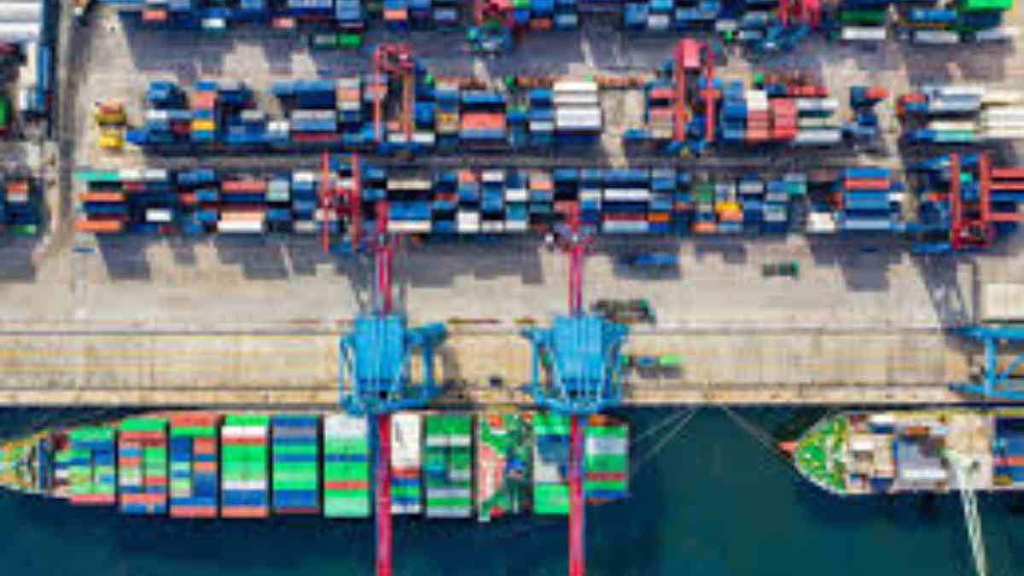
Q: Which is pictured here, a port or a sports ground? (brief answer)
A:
port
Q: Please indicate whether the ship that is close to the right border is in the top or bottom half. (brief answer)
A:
bottom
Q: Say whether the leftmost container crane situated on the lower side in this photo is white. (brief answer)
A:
No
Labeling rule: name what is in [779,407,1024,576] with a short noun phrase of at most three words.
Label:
ship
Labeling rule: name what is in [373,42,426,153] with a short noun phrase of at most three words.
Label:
container crane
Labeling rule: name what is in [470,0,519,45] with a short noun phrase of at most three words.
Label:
container crane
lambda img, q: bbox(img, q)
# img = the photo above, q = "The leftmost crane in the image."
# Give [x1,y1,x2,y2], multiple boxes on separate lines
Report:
[320,152,377,256]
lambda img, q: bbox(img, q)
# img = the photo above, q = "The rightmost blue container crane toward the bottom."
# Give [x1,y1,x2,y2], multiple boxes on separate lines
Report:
[954,329,1024,404]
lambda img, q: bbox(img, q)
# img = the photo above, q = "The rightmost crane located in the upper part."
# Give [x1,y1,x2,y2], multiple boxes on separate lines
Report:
[914,151,991,255]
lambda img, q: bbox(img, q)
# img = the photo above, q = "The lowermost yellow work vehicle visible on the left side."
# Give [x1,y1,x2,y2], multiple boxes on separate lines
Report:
[92,132,127,150]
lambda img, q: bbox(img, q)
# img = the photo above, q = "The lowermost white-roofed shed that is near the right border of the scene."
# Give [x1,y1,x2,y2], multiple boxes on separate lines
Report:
[977,283,1024,320]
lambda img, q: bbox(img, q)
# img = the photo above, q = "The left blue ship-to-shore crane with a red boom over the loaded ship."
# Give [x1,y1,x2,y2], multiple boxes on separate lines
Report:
[341,203,448,576]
